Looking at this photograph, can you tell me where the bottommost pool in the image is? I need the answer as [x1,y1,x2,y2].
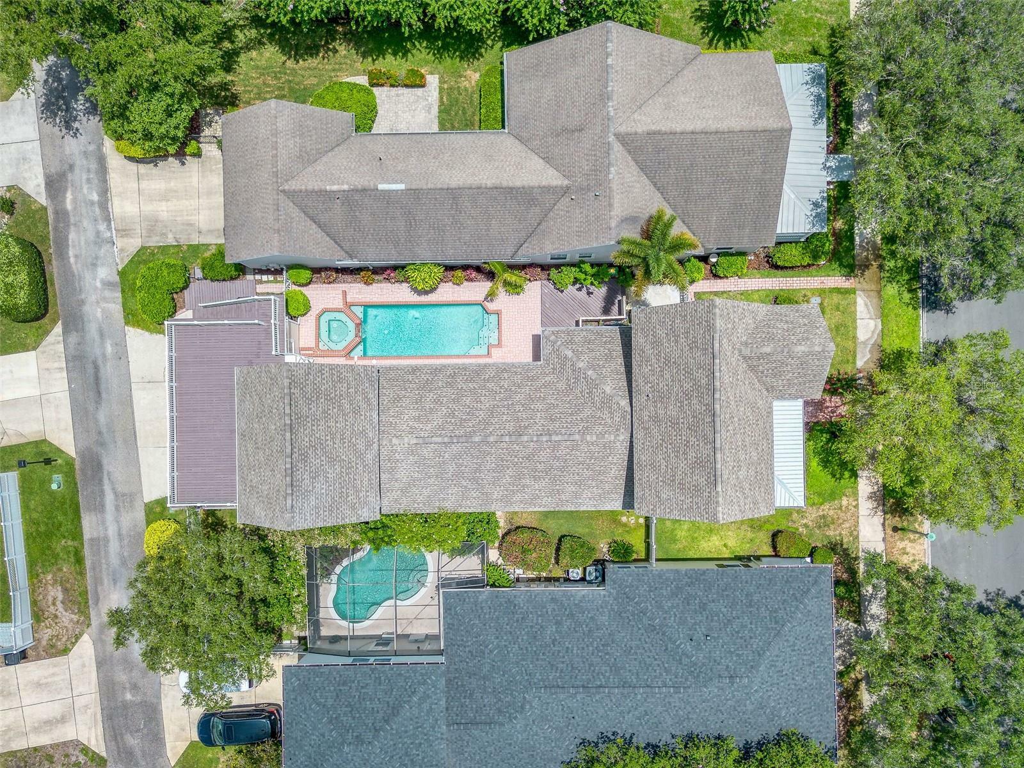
[328,544,433,628]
